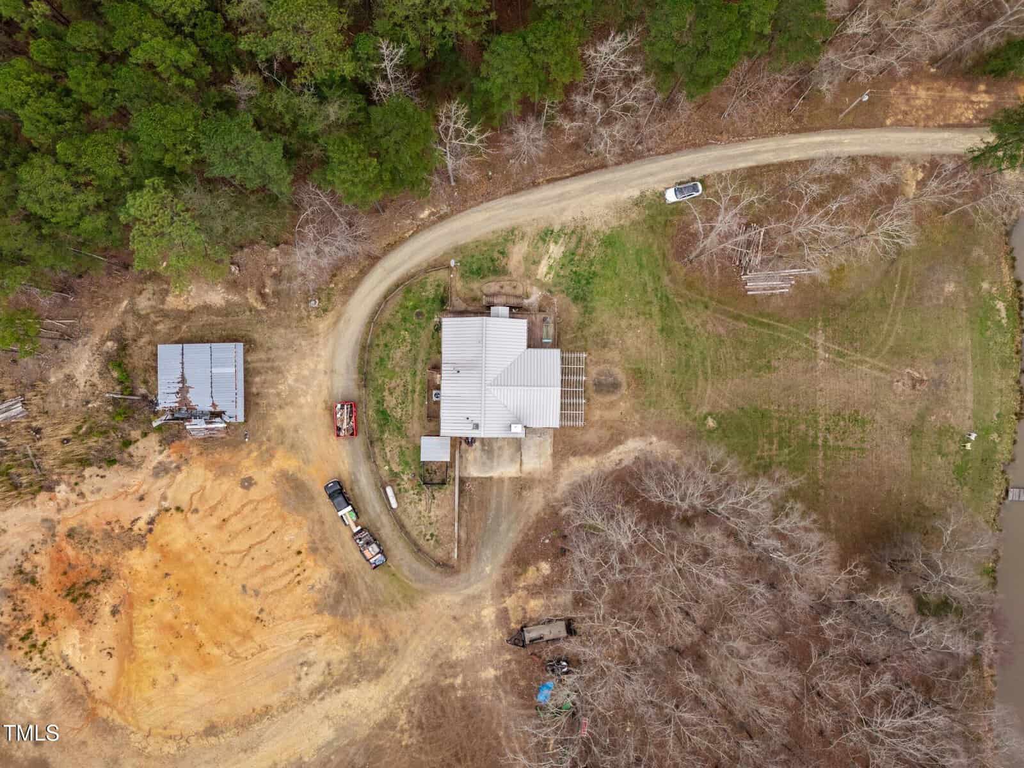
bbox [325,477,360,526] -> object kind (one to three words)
truck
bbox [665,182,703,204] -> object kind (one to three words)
car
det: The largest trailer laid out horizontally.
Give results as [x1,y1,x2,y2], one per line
[506,618,576,646]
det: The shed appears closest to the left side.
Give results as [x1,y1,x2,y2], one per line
[158,343,252,422]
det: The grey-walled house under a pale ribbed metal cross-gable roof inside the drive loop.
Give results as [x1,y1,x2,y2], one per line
[441,306,562,439]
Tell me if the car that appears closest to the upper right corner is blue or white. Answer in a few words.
white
